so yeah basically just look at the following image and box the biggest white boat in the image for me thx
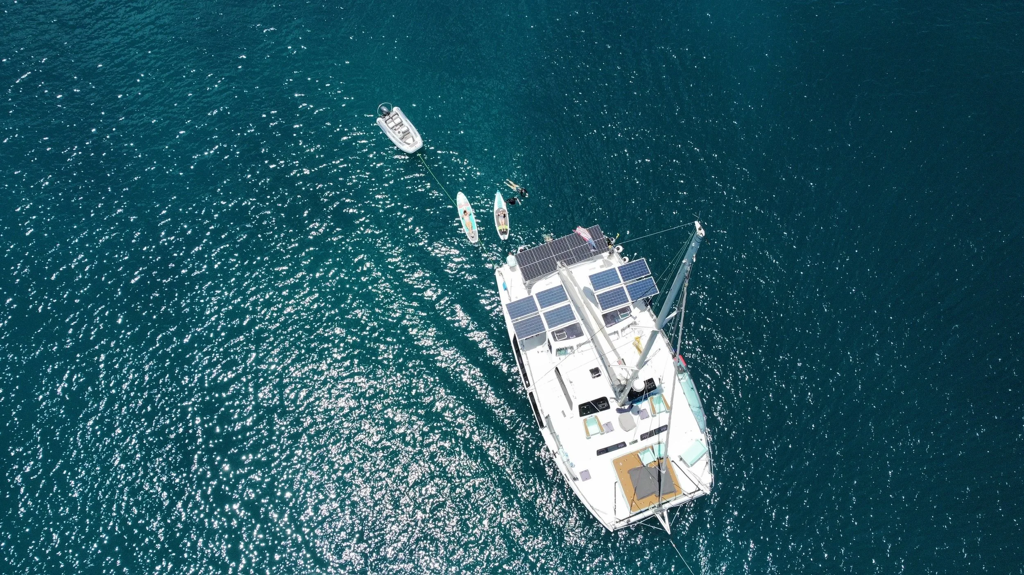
[497,204,714,536]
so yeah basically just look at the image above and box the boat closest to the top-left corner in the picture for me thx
[377,103,421,151]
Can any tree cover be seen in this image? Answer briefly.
No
